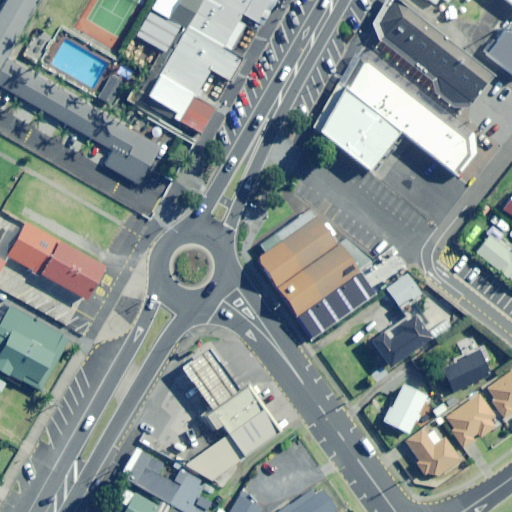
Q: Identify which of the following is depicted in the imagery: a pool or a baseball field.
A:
pool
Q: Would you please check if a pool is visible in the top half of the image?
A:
Yes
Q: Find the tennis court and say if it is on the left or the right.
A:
left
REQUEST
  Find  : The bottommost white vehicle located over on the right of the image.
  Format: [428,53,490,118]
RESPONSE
[357,436,376,458]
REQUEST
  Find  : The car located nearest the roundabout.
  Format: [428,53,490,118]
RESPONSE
[201,282,216,298]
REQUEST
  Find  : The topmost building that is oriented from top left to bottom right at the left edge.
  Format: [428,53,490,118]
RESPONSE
[0,56,158,184]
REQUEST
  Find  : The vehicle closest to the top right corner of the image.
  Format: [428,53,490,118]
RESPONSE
[444,6,456,21]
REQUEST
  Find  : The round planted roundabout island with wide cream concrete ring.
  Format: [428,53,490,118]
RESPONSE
[170,244,215,289]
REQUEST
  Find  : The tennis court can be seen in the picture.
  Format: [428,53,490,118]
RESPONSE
[73,0,142,50]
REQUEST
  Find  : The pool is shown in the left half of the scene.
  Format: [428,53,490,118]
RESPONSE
[42,29,116,98]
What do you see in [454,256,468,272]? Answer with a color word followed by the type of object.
white car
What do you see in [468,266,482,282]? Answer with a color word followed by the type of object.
white car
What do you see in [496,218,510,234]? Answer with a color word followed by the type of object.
white vehicle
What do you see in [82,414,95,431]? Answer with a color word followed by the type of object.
white vehicle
